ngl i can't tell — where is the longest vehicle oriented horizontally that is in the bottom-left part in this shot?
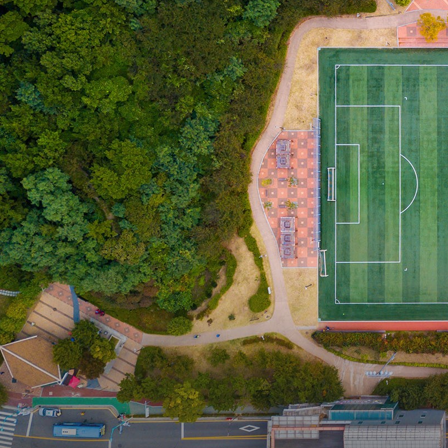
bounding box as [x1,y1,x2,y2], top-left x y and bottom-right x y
[50,421,108,437]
